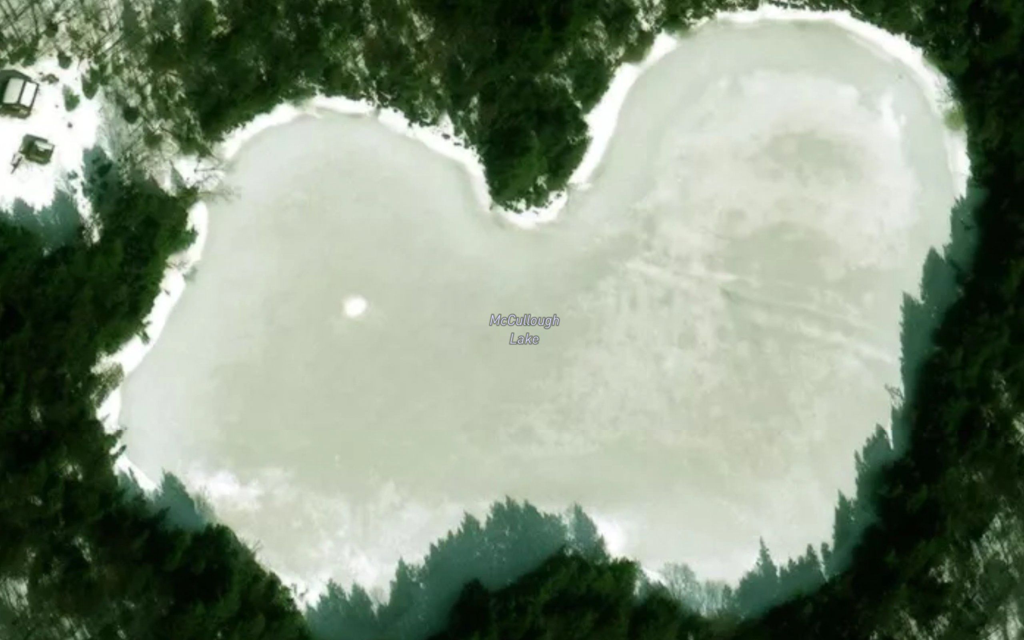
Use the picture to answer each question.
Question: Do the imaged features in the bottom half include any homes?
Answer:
No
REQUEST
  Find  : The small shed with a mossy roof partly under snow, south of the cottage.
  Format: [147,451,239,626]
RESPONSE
[28,140,55,163]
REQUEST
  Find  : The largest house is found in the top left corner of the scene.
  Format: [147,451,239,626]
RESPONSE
[2,77,38,119]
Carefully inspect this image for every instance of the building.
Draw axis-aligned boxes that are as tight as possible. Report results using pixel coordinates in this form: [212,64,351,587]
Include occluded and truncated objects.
[2,77,38,119]
[28,140,55,163]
